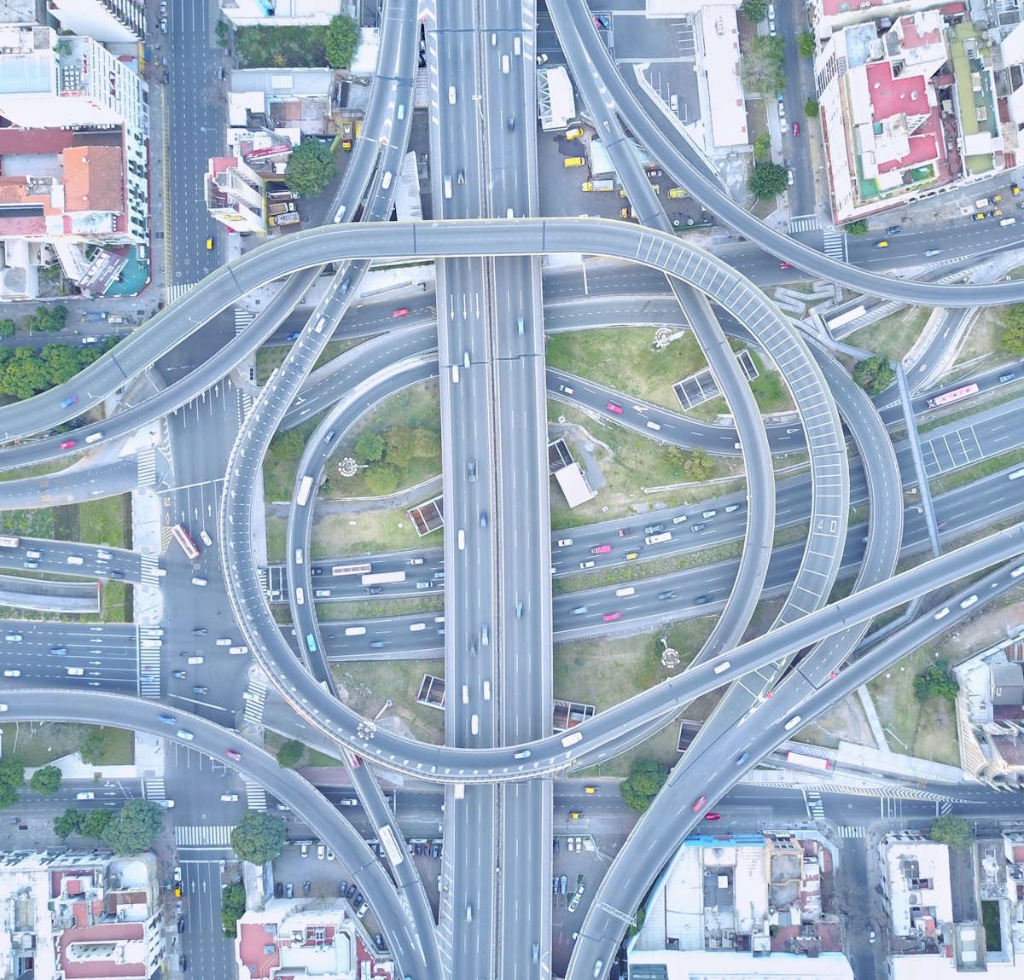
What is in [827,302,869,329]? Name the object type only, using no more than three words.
bus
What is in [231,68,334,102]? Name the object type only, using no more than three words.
shed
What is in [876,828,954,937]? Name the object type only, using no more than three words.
building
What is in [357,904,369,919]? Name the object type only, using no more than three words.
vehicle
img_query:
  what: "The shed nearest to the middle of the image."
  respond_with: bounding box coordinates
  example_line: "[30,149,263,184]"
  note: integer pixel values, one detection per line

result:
[555,463,597,507]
